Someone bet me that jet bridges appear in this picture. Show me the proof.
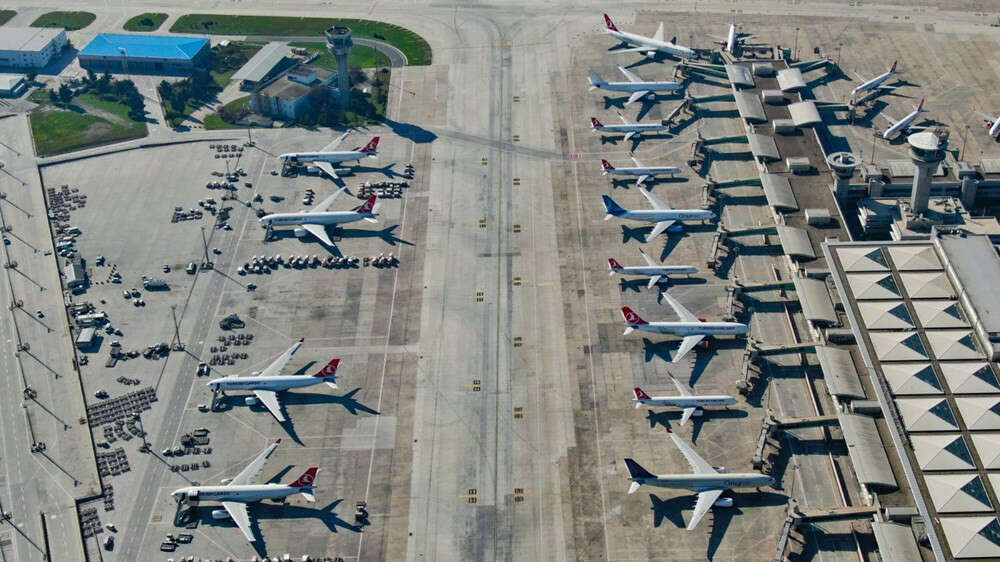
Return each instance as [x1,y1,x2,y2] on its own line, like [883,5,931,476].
[700,179,761,221]
[735,342,812,400]
[686,137,747,175]
[670,58,725,87]
[722,281,794,321]
[788,58,832,85]
[749,416,836,481]
[772,506,865,562]
[661,95,734,133]
[809,100,864,135]
[741,45,782,61]
[706,227,776,277]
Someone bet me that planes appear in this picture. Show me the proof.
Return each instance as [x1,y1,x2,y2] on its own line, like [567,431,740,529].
[706,20,756,55]
[594,110,667,140]
[599,13,699,60]
[604,181,714,239]
[208,335,338,418]
[603,151,680,183]
[277,127,378,177]
[851,63,900,97]
[610,246,698,286]
[257,186,375,243]
[623,286,748,361]
[590,61,683,103]
[628,426,773,526]
[637,372,737,424]
[172,437,317,539]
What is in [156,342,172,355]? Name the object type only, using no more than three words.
vehicle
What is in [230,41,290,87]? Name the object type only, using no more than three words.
shed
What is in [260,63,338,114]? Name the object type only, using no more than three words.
building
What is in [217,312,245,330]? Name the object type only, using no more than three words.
work vehicle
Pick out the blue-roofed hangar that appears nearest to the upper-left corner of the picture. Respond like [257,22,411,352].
[79,34,210,70]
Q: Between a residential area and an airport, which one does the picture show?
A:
airport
